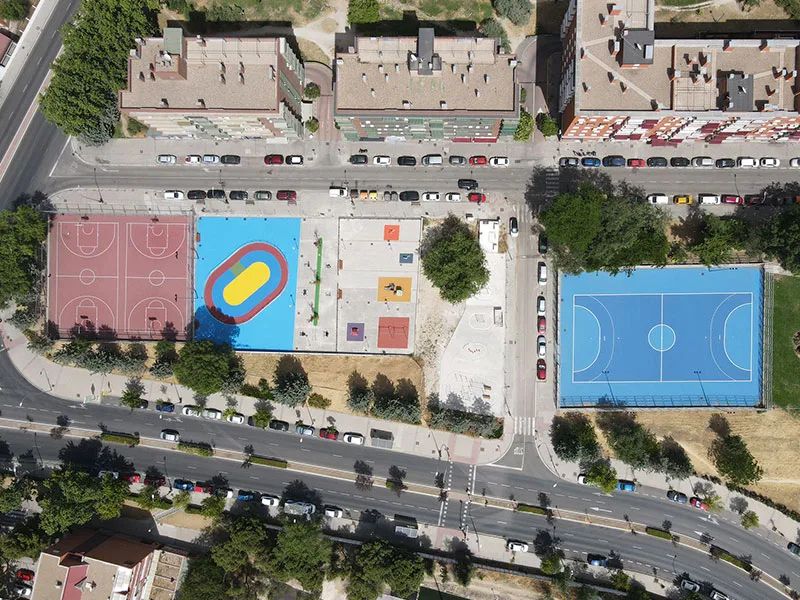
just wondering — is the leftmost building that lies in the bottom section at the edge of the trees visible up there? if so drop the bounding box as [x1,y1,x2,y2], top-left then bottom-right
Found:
[29,533,158,600]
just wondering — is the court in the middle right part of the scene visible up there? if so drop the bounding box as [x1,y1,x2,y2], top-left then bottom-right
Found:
[559,264,764,407]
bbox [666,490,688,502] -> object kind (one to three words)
vehicle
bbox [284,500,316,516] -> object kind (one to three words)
vehicle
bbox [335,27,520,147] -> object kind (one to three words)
building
